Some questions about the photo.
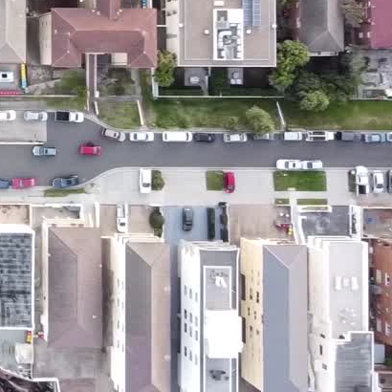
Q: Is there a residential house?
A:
Yes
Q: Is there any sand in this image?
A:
No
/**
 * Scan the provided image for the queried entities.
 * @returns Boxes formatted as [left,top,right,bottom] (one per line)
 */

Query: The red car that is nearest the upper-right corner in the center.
[222,170,235,192]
